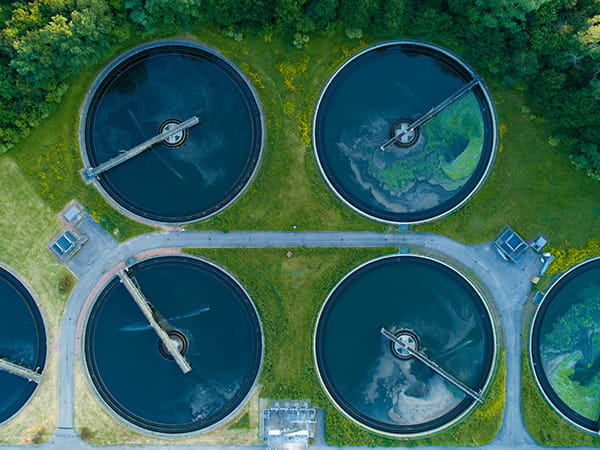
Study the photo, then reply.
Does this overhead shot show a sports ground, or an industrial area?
industrial area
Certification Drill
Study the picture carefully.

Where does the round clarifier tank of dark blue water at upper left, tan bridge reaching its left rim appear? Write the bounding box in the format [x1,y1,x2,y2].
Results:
[80,39,264,223]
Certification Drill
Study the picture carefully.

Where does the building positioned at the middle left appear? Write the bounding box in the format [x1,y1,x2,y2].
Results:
[46,225,91,265]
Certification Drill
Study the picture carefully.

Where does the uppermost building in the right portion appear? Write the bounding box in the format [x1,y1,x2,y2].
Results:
[490,226,529,266]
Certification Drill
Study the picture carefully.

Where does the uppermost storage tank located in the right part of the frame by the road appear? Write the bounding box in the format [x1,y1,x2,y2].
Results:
[312,39,497,224]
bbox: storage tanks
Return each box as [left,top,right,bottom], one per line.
[80,39,264,223]
[312,39,497,224]
[0,262,48,424]
[529,256,600,438]
[83,255,265,437]
[312,254,497,438]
